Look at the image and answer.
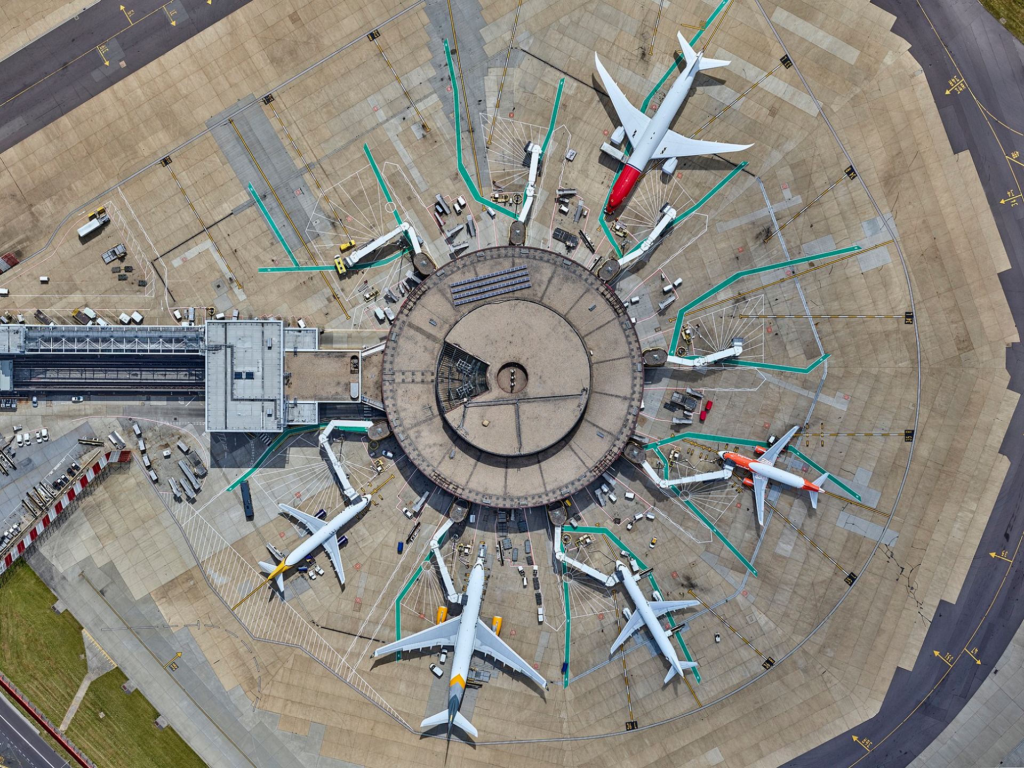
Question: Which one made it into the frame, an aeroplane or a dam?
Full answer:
Visible in the photo is an aeroplane.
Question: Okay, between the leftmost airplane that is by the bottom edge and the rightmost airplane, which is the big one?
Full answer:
Of the two, the leftmost airplane that is by the bottom edge is larger and the rightmost airplane is the smaller one.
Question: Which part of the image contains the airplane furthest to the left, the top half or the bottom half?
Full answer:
Seen from above, the airplane furthest to the left lies in the bottom half of the view.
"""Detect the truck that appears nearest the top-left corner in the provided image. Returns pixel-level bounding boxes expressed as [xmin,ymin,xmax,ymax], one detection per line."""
[73,213,112,239]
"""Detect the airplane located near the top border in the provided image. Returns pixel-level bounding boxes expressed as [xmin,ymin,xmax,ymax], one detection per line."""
[595,30,755,213]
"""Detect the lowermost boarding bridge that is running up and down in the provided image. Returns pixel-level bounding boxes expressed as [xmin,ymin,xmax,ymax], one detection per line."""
[429,519,469,602]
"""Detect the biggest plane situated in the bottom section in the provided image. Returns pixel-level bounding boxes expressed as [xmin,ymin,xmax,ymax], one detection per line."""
[369,558,551,745]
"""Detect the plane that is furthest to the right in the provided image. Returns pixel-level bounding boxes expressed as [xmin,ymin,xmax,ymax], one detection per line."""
[718,427,829,529]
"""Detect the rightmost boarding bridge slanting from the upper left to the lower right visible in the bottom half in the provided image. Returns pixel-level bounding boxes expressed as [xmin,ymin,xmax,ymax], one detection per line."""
[553,524,626,586]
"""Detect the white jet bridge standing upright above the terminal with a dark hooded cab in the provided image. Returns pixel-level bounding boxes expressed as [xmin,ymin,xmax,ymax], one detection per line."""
[516,141,542,224]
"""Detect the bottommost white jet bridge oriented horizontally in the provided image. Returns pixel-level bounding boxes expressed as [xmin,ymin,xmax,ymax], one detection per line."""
[640,455,741,490]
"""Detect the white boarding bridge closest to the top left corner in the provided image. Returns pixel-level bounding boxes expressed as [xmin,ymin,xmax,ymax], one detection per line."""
[344,221,426,275]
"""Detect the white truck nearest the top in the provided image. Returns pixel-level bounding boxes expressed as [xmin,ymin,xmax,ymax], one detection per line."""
[601,143,631,164]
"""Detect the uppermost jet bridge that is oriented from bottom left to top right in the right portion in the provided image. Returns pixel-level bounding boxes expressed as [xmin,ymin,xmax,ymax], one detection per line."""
[618,200,676,266]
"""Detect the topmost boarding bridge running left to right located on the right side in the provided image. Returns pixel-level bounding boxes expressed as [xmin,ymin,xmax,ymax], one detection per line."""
[665,335,745,367]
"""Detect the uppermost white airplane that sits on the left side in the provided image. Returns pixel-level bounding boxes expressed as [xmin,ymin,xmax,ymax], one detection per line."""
[258,495,372,595]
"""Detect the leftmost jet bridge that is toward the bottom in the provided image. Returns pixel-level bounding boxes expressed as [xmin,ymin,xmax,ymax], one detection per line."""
[317,418,372,509]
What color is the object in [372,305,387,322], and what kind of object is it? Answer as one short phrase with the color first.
white vehicle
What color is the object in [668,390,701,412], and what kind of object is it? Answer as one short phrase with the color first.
gray work vehicle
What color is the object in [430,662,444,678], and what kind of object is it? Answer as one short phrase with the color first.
white vehicle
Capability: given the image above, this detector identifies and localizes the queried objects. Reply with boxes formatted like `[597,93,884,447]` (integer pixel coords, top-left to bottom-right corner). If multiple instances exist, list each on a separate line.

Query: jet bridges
[317,418,372,509]
[429,519,469,602]
[344,221,426,275]
[618,200,676,266]
[640,455,741,490]
[665,335,745,367]
[553,524,626,586]
[516,141,542,224]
